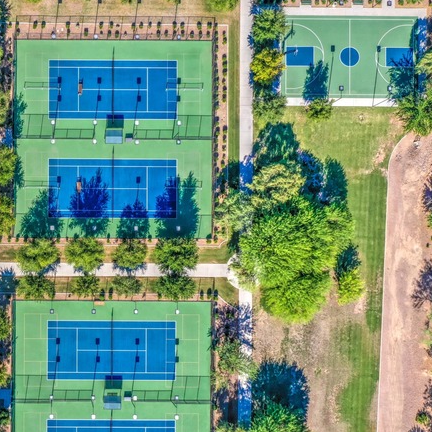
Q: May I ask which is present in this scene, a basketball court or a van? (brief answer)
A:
basketball court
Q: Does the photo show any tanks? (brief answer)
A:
No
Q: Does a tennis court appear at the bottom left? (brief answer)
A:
Yes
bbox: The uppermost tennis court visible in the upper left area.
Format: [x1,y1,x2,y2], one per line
[16,39,212,139]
